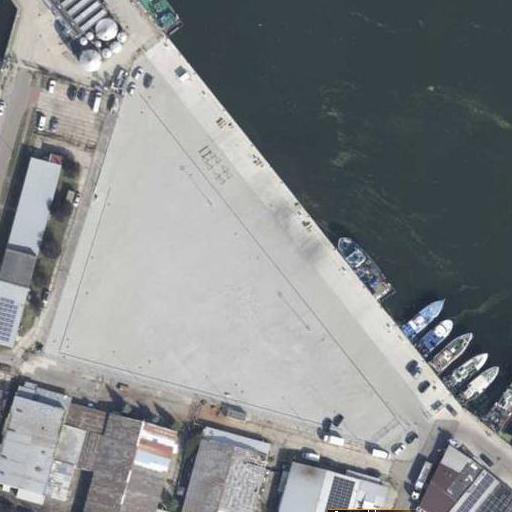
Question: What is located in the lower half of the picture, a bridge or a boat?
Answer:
boat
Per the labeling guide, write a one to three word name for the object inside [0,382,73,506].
building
